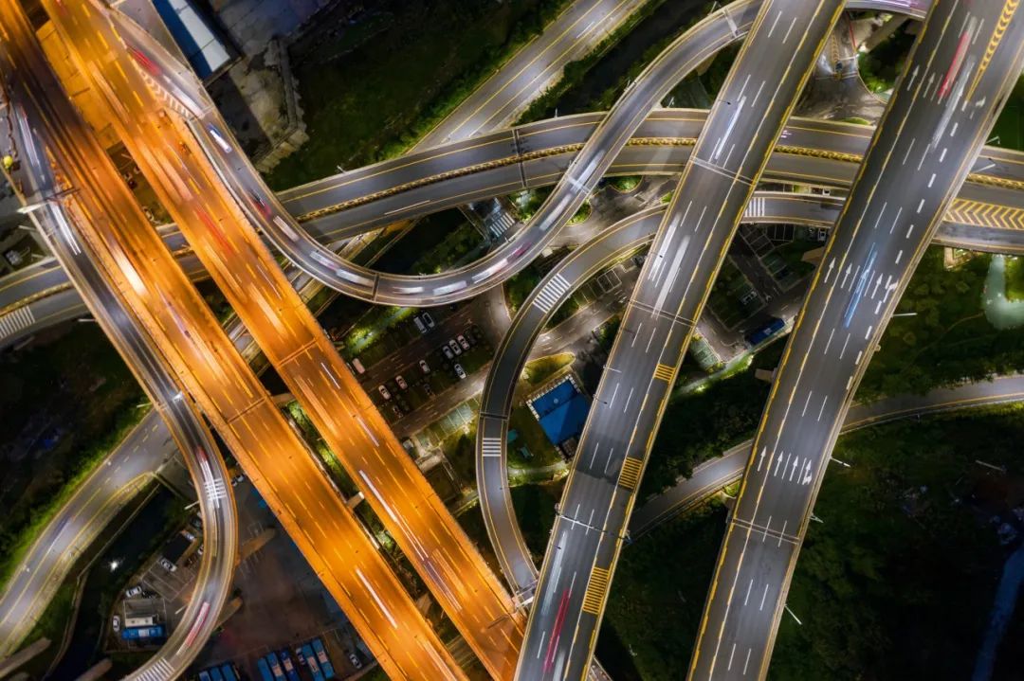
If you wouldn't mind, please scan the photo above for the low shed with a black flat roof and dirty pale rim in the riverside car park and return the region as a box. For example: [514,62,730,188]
[167,528,200,567]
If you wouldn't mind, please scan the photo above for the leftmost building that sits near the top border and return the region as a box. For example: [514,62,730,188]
[158,0,247,93]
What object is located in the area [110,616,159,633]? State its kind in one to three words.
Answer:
vehicle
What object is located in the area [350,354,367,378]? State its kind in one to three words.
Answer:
vehicle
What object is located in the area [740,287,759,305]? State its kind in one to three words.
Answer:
car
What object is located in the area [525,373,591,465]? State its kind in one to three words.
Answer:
building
